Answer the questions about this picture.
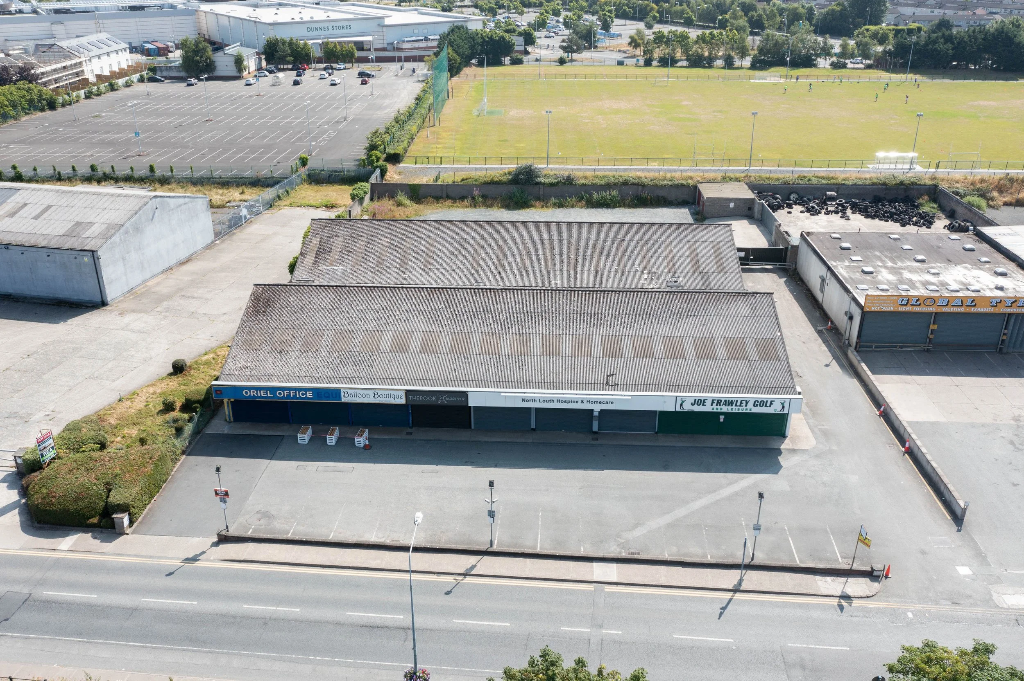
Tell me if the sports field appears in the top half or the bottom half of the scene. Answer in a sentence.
It is in the top half that the sports field appears.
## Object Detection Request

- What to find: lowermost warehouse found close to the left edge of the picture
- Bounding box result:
[0,184,214,305]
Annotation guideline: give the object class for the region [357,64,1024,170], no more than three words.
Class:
sports field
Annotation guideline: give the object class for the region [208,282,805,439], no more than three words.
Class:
building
